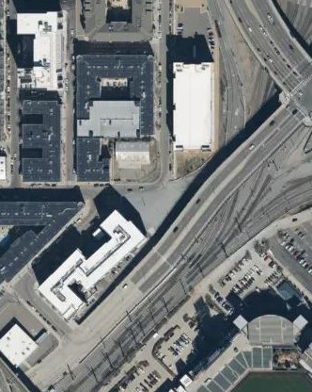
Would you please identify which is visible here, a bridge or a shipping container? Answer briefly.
bridge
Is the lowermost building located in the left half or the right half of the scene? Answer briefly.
left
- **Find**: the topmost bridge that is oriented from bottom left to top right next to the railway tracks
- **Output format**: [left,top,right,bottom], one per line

[77,104,305,340]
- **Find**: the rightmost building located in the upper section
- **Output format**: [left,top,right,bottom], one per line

[173,62,216,149]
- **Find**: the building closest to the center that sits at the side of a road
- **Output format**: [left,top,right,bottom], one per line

[116,141,150,168]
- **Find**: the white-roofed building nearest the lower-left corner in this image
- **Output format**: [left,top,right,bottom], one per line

[0,324,39,367]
